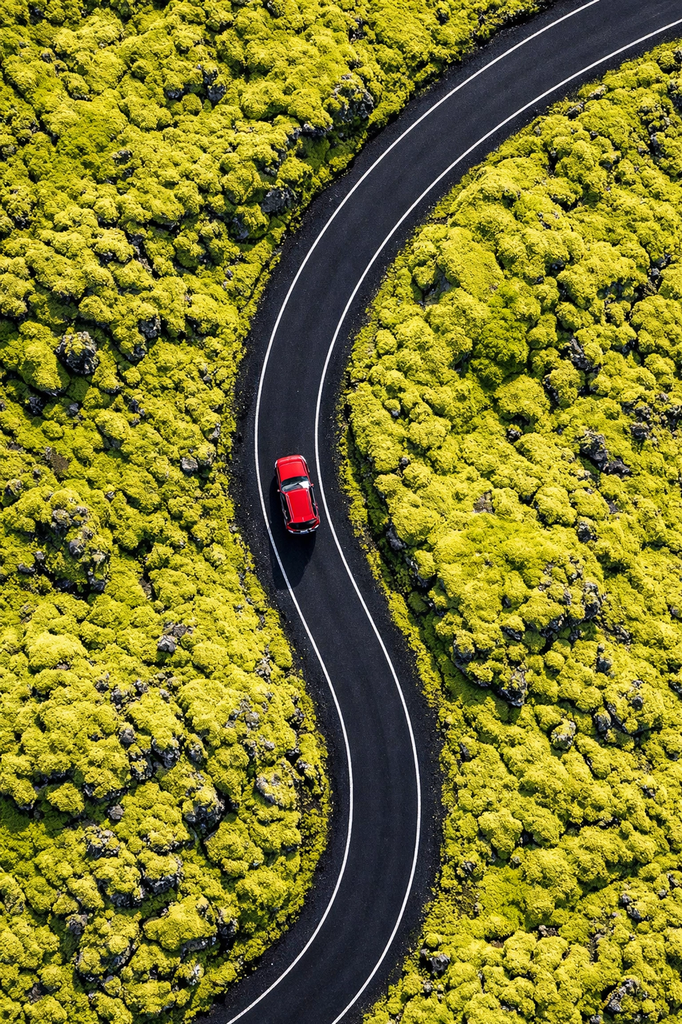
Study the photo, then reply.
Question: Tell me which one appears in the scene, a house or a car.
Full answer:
The one in the frame is a car.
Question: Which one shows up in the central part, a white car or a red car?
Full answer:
You can see a red car in the central part.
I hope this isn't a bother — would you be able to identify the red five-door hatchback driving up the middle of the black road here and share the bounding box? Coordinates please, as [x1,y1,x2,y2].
[275,456,319,536]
